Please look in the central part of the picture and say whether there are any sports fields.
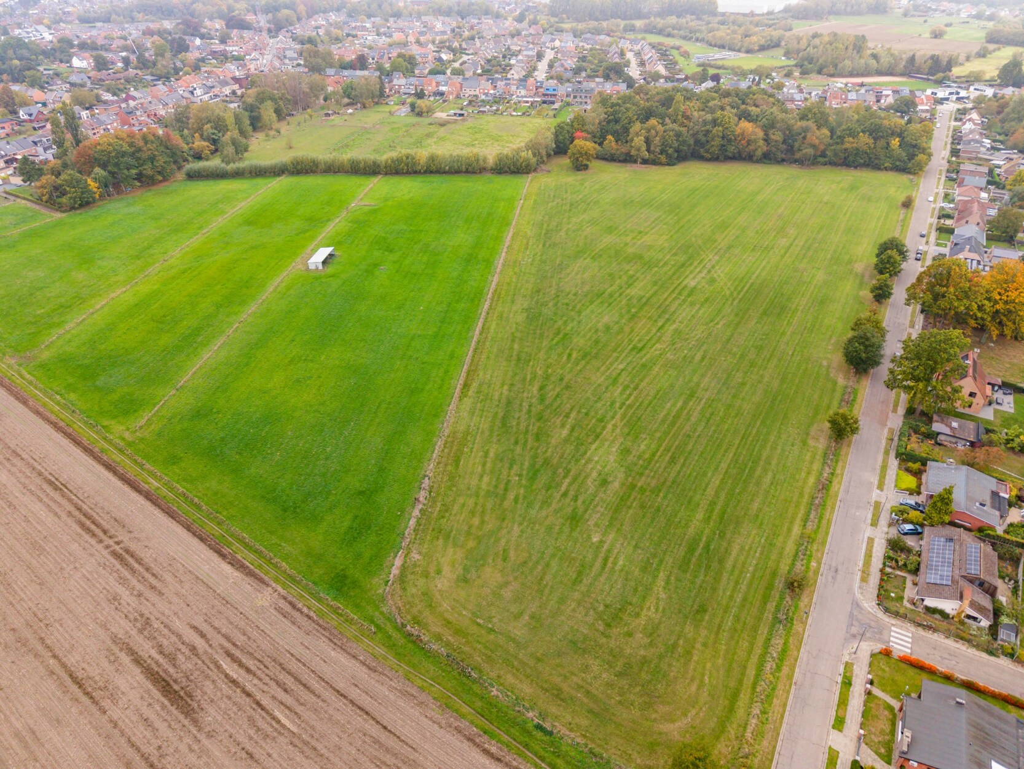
No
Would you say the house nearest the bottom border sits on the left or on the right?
right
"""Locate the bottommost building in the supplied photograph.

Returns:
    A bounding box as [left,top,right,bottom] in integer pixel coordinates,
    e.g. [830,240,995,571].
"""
[895,685,1019,769]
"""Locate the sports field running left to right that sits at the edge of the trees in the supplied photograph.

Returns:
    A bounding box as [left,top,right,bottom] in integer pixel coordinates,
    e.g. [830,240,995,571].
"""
[621,34,786,75]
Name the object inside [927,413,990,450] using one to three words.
barn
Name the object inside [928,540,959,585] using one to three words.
solar array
